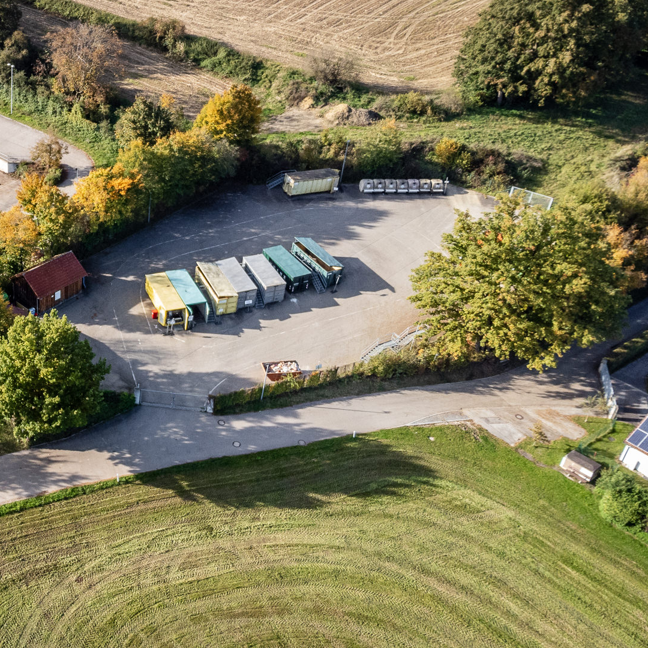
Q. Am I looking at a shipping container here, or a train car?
shipping container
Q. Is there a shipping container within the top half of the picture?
Yes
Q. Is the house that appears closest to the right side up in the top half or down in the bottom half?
bottom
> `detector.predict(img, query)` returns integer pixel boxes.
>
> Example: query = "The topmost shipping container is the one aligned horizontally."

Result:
[282,168,339,195]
